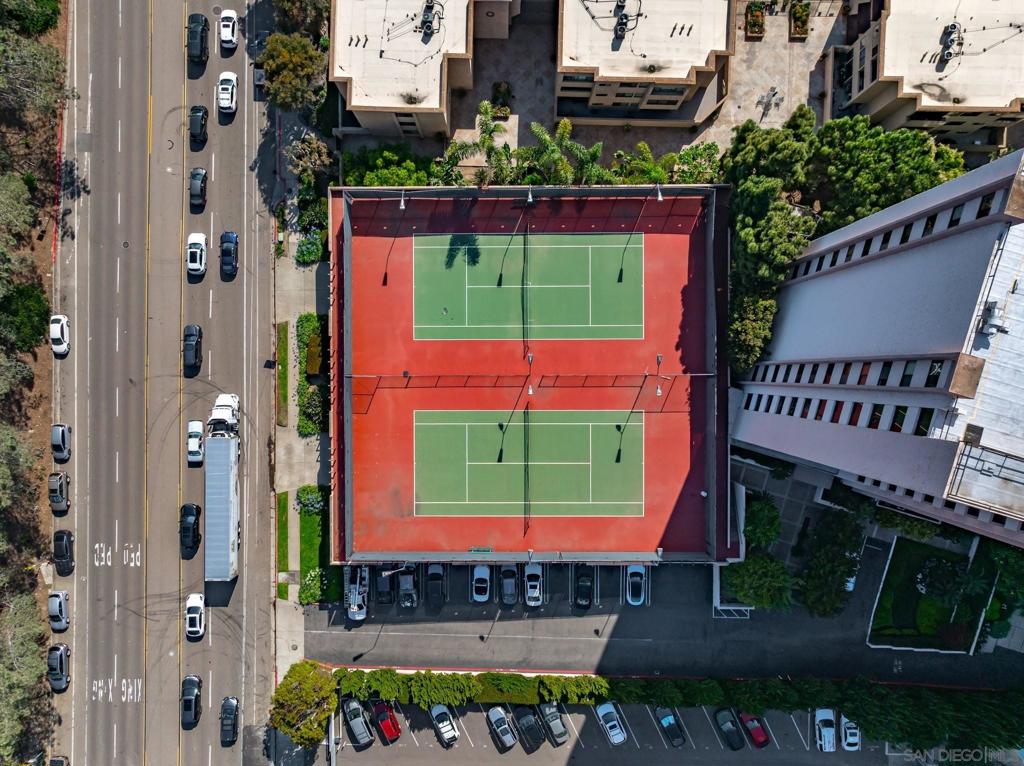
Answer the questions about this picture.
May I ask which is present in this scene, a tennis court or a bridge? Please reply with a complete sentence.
This aerial view contains a tennis court.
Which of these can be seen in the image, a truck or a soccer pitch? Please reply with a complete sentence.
This aerial view contains a truck.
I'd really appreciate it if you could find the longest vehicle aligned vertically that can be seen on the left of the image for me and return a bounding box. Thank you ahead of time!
[206,391,244,581]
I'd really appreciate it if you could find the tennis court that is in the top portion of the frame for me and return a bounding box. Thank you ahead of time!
[414,234,643,340]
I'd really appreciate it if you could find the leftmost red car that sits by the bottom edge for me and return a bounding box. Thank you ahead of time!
[374,701,402,742]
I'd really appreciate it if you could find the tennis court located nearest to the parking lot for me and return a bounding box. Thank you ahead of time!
[414,411,644,517]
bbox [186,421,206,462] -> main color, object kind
white car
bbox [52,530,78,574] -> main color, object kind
black car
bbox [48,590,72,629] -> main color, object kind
gray car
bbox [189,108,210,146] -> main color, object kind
black car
